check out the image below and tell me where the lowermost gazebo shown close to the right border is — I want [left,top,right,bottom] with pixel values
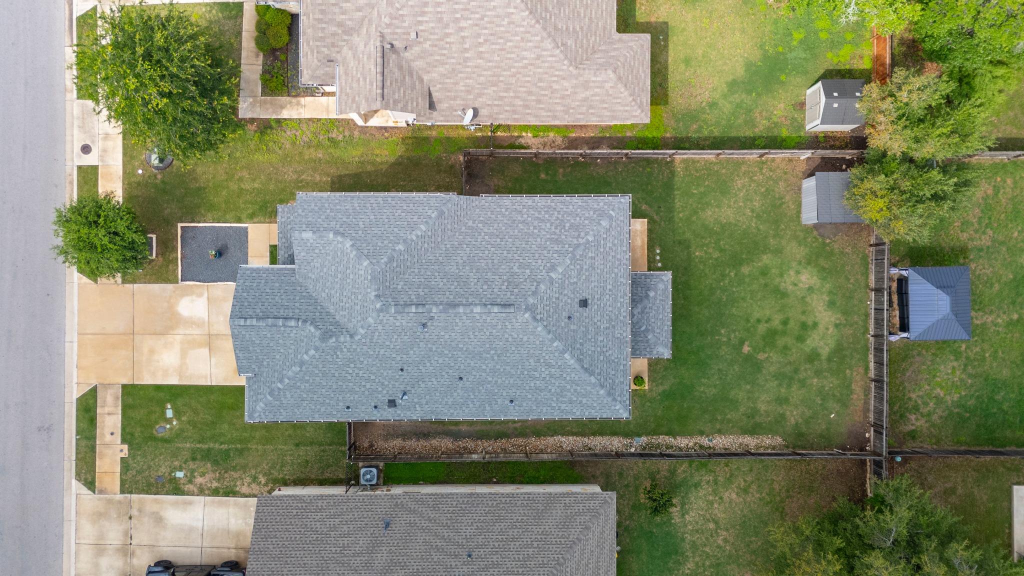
[882,265,973,341]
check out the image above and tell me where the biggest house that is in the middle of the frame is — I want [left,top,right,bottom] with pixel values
[229,191,673,422]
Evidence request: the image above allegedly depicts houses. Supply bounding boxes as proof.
[256,0,651,129]
[229,191,673,422]
[247,483,617,576]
